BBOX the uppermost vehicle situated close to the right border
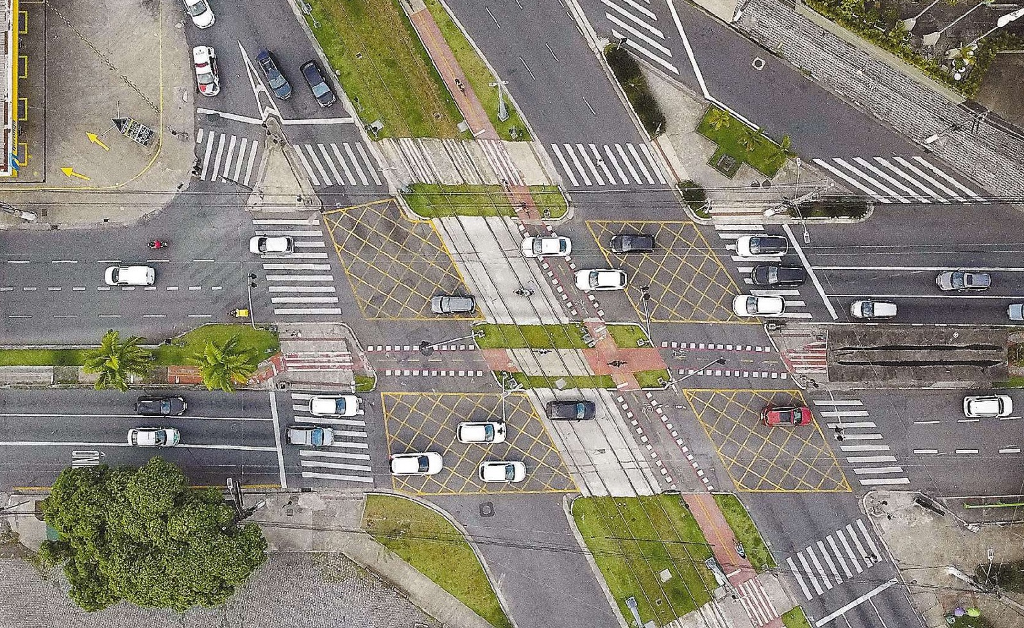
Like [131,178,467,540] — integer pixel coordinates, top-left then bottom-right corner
[934,268,993,292]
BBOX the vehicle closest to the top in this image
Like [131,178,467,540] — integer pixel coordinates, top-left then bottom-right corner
[186,0,217,31]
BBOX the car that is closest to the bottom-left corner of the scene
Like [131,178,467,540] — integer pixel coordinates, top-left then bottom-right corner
[127,427,181,449]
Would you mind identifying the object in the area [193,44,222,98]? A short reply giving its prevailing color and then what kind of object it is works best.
white car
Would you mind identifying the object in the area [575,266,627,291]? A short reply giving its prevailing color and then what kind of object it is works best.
white car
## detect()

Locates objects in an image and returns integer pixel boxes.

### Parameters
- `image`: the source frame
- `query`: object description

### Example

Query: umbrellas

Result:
[957,602,980,618]
[943,601,964,618]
